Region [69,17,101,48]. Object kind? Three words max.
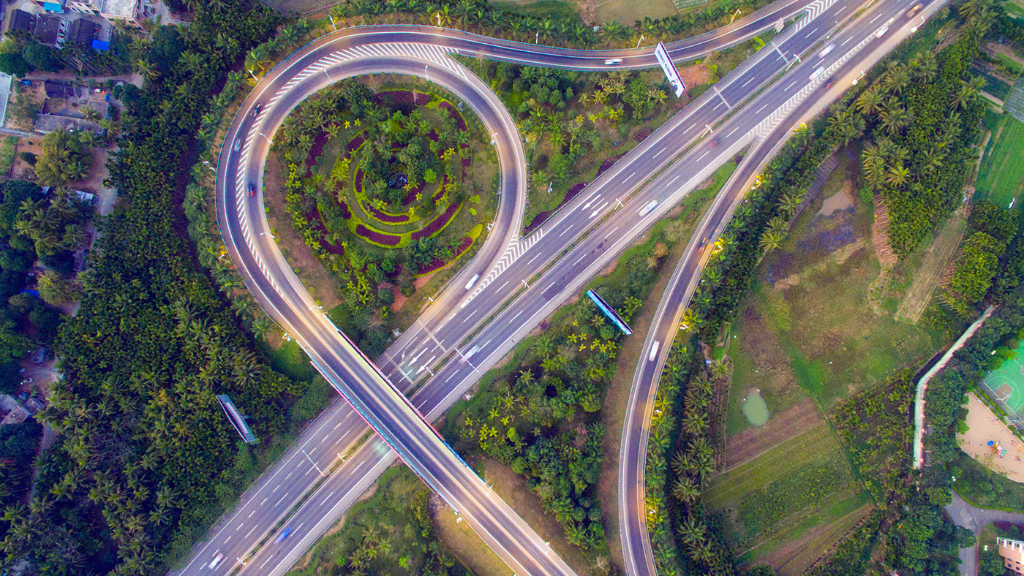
house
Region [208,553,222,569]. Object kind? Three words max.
vehicle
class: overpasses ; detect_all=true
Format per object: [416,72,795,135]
[307,329,470,492]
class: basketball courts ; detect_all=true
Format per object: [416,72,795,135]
[977,330,1024,422]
